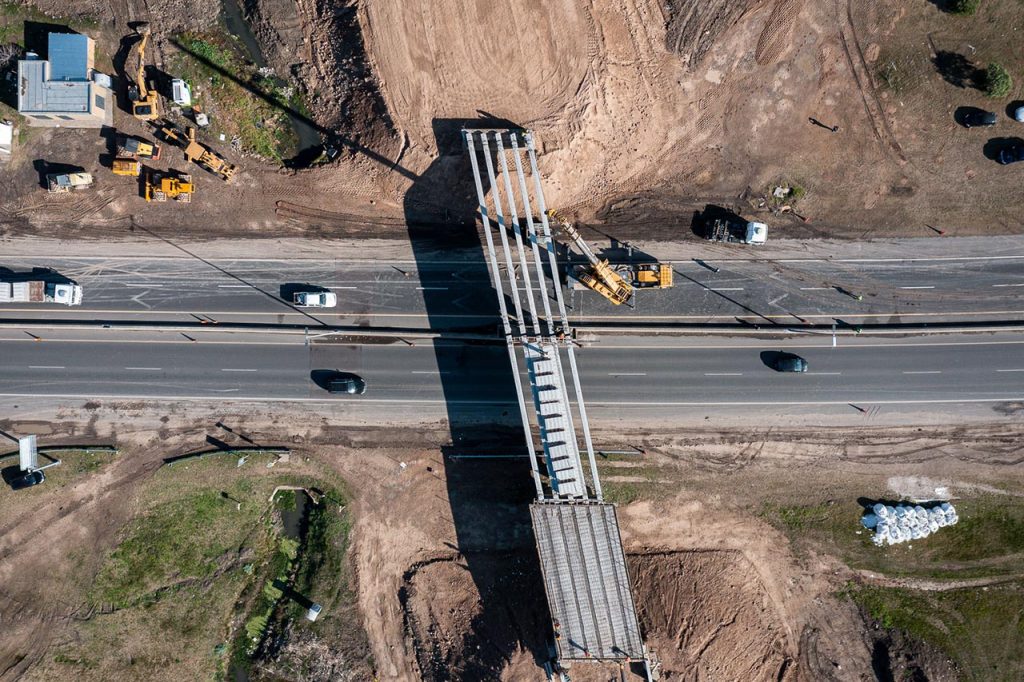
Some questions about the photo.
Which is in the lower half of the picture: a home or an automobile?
automobile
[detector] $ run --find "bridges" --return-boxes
[461,129,652,682]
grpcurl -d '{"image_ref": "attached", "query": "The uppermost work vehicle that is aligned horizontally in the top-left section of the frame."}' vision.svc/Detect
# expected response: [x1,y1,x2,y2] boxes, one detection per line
[118,137,167,163]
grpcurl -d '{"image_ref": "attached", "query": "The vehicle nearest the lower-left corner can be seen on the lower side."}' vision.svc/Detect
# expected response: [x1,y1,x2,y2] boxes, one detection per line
[11,469,48,490]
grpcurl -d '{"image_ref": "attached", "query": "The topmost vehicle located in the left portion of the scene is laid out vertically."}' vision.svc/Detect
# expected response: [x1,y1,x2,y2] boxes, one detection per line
[129,30,166,126]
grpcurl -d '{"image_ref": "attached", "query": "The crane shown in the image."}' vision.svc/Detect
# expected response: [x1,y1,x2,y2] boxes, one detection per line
[542,207,675,311]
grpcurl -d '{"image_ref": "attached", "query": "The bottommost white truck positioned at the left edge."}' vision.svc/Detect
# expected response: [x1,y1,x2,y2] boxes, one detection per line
[0,281,87,308]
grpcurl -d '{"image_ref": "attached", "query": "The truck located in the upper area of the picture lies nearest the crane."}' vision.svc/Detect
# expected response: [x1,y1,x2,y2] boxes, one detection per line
[703,219,769,245]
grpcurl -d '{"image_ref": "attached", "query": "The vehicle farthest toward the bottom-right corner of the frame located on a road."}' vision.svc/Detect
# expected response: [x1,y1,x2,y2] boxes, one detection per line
[774,356,808,373]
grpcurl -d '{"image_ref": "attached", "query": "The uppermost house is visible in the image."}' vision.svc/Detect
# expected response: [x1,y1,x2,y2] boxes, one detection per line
[19,34,113,129]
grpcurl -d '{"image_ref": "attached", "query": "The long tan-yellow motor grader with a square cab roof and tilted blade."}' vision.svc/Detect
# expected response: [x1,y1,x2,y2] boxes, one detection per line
[161,125,237,181]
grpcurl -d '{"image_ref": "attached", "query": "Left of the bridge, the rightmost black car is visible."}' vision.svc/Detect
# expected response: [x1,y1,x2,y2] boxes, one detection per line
[330,376,367,394]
